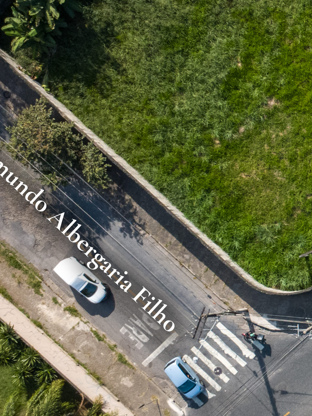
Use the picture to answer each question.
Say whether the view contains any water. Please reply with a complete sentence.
No, there's no water in this view.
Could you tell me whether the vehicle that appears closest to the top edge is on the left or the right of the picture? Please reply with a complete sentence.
It is on the left.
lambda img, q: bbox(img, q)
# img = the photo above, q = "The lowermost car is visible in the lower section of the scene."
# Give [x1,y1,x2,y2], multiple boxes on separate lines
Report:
[165,357,205,398]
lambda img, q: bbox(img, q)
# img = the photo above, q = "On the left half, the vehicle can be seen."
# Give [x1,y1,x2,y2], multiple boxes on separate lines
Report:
[53,257,108,301]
